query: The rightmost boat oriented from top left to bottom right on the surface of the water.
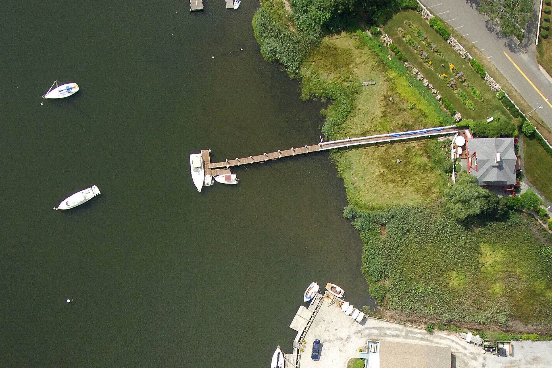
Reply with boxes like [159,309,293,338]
[328,283,345,298]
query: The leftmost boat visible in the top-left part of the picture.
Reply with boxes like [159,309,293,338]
[44,82,80,99]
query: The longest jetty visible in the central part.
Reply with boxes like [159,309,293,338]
[202,124,460,183]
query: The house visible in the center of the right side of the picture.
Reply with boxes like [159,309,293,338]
[453,130,520,199]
